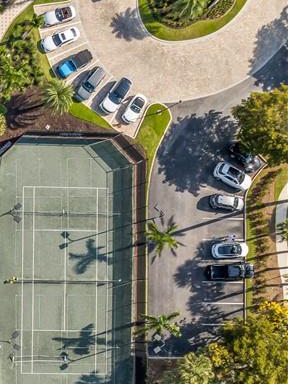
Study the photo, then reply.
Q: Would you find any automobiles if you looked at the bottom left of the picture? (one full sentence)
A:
No, I can find no automobile at the bottom left of the picture.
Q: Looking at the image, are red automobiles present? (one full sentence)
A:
No, there's no red automobile here.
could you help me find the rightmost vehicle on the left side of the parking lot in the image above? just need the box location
[118,93,148,126]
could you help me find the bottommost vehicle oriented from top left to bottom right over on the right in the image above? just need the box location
[209,160,253,193]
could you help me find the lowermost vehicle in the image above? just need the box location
[203,262,254,281]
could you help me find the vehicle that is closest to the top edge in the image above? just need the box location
[40,5,78,30]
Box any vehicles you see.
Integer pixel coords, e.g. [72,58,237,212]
[208,240,247,258]
[38,26,82,54]
[224,141,267,175]
[207,192,244,211]
[53,47,97,81]
[71,64,110,104]
[95,74,135,116]
[203,262,254,281]
[40,5,78,30]
[209,160,253,193]
[118,93,148,126]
